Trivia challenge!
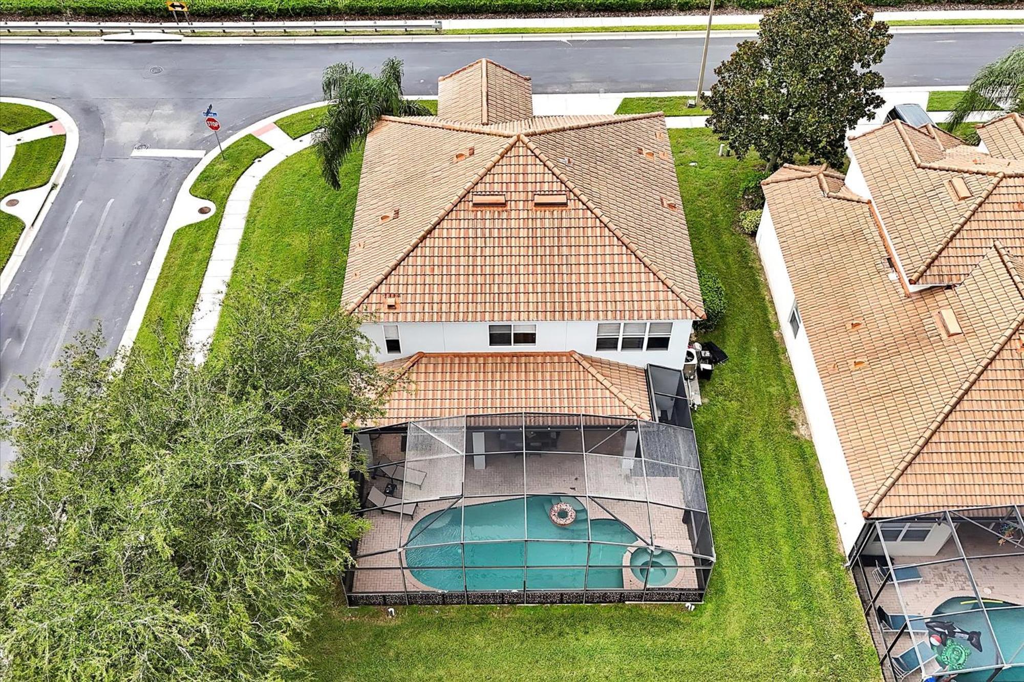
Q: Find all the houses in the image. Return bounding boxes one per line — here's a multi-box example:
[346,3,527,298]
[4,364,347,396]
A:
[757,105,1024,557]
[336,55,710,472]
